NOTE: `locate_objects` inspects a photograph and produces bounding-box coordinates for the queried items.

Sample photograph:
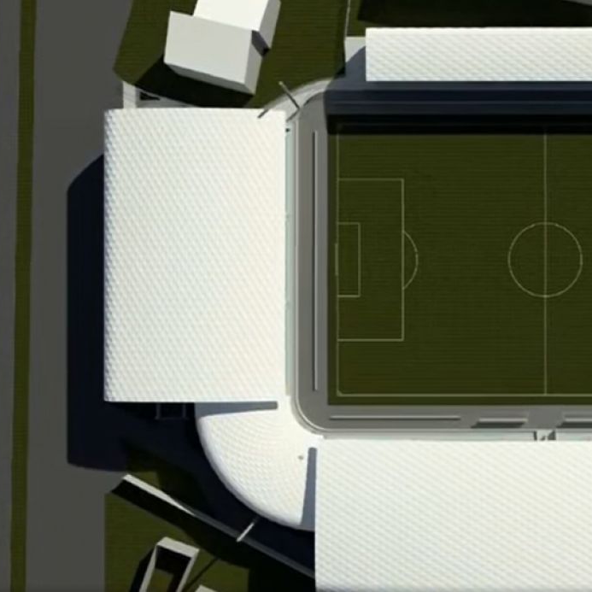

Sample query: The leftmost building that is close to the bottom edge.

[140,536,200,592]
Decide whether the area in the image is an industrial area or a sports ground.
sports ground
